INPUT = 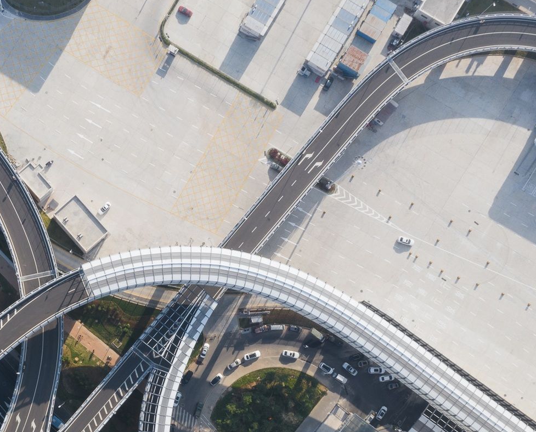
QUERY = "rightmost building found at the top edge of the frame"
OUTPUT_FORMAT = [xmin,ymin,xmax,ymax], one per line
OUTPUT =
[411,0,461,33]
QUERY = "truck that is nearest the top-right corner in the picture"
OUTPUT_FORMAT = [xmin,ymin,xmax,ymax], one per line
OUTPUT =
[392,6,415,42]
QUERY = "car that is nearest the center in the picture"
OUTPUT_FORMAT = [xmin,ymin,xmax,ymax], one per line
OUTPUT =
[265,158,282,172]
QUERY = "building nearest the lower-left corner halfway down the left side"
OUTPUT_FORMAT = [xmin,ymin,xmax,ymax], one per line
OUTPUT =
[55,196,108,255]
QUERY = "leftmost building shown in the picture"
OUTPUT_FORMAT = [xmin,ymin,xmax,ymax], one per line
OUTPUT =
[19,163,53,203]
